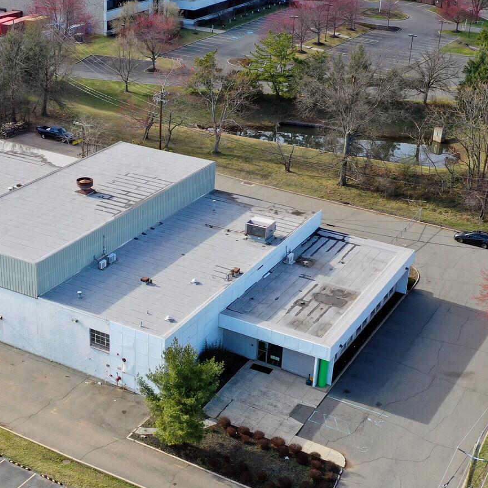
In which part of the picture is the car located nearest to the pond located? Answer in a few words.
right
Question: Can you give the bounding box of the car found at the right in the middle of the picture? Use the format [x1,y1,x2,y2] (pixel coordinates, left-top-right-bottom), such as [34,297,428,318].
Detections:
[455,227,488,248]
